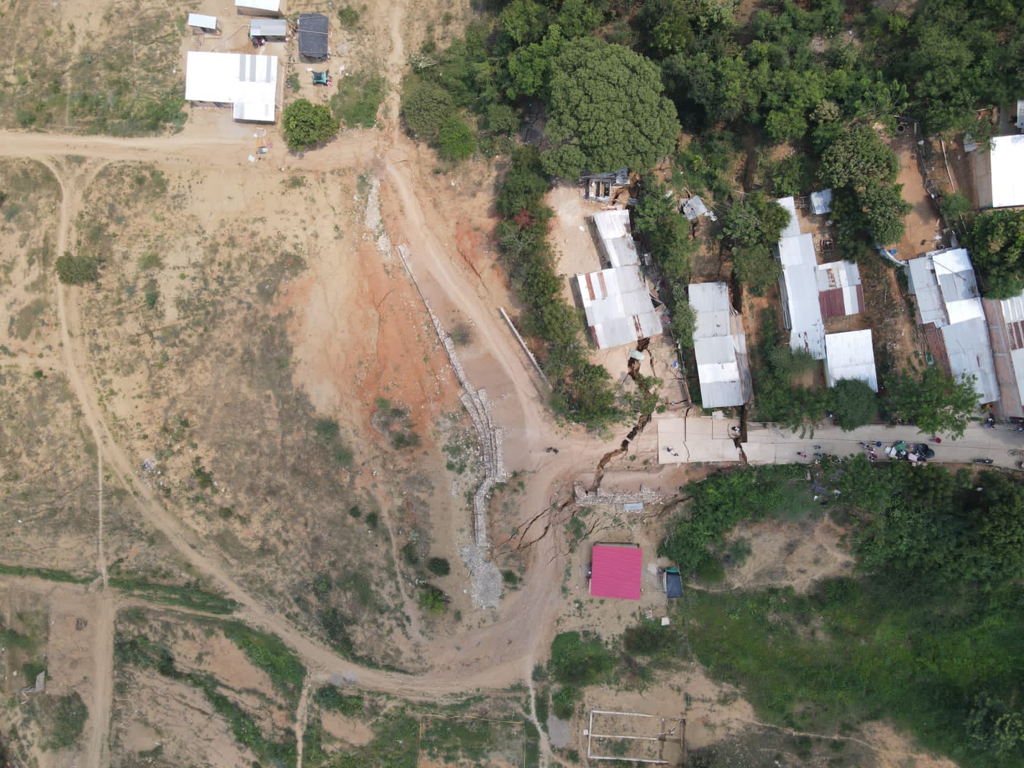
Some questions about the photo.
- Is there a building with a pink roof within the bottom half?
Yes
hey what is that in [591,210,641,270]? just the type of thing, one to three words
house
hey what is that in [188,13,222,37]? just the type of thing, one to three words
shed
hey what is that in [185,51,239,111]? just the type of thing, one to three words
house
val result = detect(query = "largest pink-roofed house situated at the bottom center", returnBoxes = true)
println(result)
[590,543,642,600]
